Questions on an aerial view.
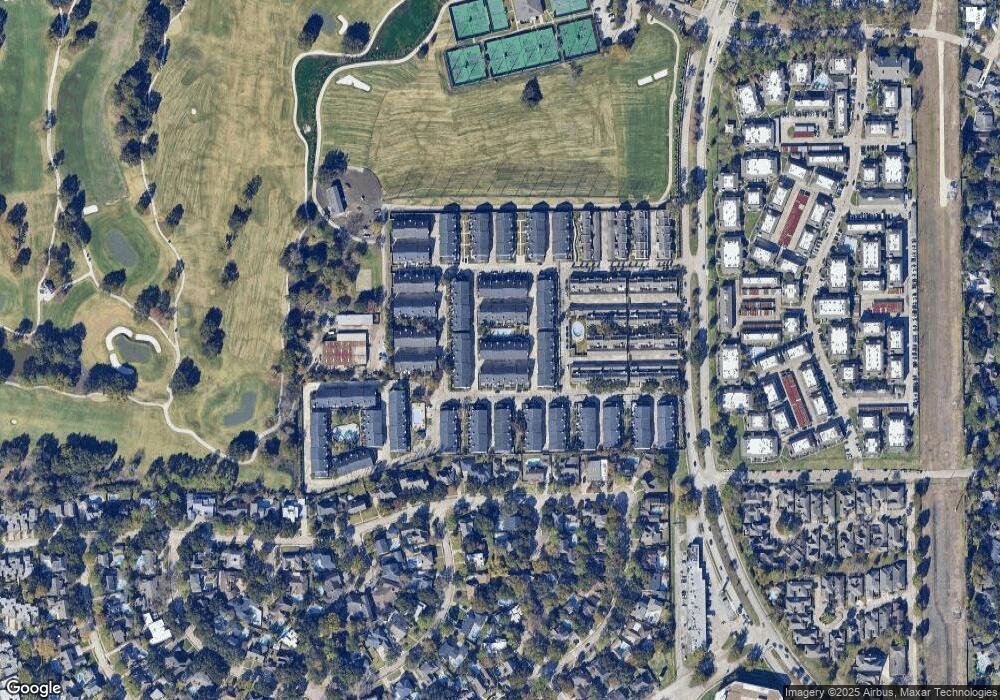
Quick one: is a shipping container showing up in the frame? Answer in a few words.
No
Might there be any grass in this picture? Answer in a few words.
Yes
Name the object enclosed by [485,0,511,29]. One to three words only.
tennis court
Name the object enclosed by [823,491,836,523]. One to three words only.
house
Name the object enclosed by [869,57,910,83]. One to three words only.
building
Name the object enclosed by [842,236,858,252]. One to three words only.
swimming pool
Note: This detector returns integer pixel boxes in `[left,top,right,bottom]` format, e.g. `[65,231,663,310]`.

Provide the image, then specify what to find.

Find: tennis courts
[447,44,488,85]
[486,28,560,76]
[485,0,511,29]
[559,19,598,59]
[553,0,590,17]
[451,0,491,39]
